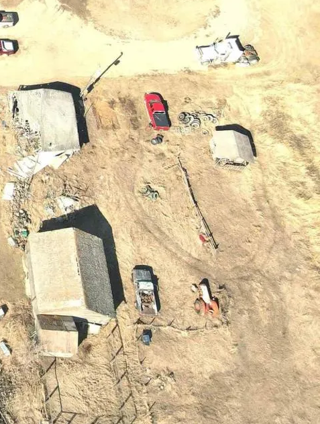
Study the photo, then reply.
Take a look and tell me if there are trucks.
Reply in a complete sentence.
Yes, the photo shows a truck.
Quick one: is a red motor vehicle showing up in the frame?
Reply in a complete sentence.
Yes, there's a red motor vehicle down there.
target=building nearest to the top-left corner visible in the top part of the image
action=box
[3,88,80,193]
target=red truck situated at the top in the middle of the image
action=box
[143,92,173,131]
